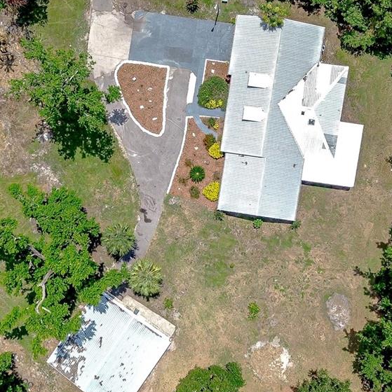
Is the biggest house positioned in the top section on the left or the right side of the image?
right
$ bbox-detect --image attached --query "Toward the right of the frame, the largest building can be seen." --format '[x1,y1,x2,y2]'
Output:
[218,14,364,222]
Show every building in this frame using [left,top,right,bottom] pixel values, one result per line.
[218,14,364,222]
[47,291,173,392]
